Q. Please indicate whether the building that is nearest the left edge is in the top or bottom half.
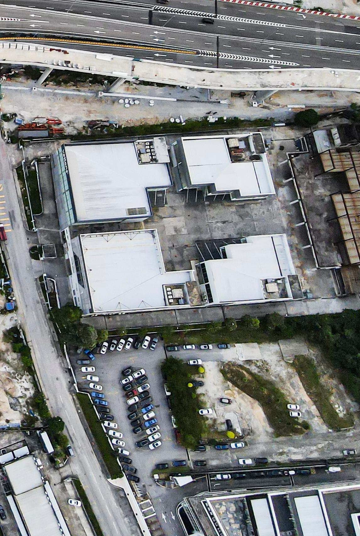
bottom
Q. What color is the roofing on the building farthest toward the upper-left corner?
white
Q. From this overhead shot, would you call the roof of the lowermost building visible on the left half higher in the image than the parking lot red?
No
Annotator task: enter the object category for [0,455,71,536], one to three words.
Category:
building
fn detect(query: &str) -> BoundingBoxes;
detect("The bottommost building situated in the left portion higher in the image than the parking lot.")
[73,229,201,314]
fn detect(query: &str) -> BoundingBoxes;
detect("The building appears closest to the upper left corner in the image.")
[54,138,172,230]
